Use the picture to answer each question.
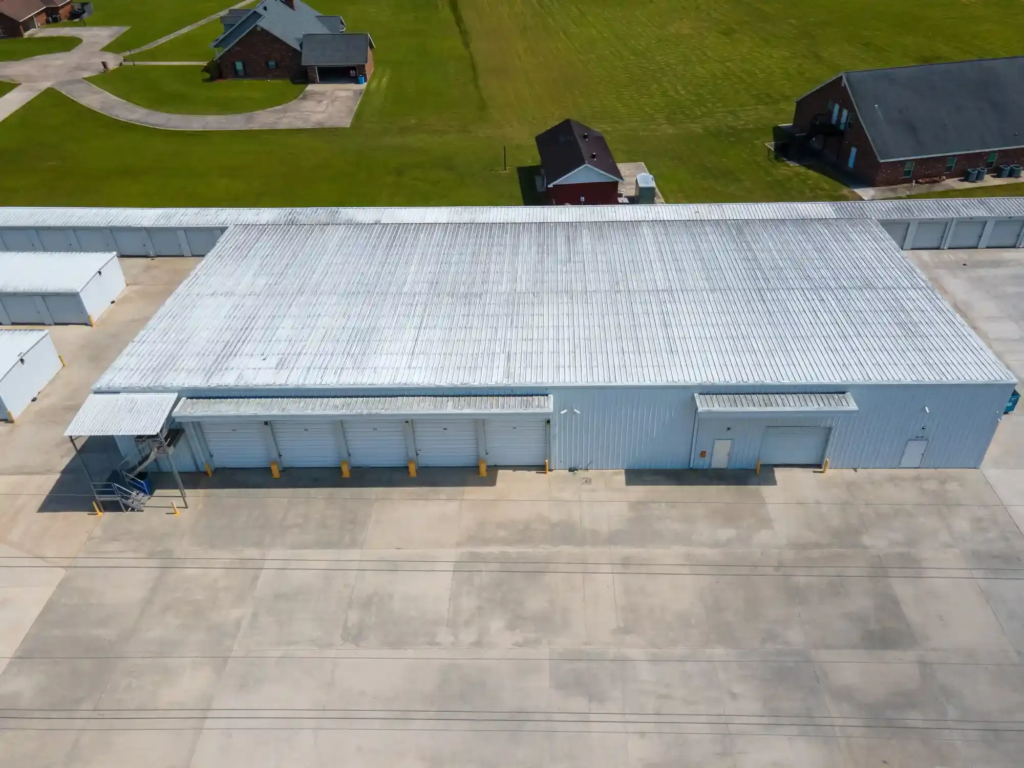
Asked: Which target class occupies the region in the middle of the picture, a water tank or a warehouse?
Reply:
warehouse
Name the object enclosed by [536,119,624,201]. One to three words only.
shed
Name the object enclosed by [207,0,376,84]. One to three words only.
house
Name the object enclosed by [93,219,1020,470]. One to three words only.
warehouse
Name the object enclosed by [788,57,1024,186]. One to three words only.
building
